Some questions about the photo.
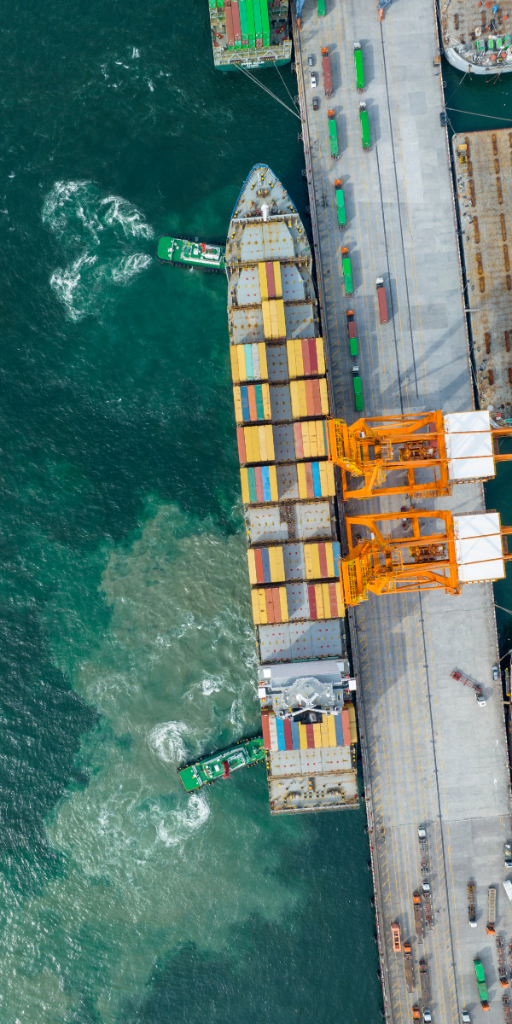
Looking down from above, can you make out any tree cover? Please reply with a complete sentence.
No, the picture contains no tree cover.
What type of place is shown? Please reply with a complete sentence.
What you see here is a port.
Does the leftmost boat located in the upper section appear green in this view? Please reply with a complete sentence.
Yes, the leftmost boat located in the upper section is indeed green.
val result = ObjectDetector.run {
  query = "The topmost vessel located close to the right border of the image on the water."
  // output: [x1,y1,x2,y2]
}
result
[436,0,512,83]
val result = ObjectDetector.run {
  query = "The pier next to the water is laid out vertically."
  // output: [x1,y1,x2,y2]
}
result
[289,0,512,1024]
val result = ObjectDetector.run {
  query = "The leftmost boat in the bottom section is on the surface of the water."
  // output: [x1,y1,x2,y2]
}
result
[175,740,264,793]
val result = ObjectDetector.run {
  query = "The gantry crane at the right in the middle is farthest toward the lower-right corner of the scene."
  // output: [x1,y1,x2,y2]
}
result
[339,508,512,597]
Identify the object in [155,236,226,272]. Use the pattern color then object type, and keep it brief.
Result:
green boat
